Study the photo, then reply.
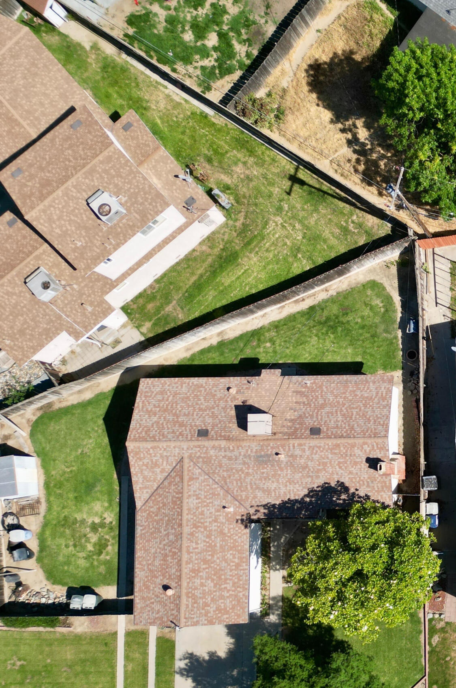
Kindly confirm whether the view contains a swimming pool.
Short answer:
No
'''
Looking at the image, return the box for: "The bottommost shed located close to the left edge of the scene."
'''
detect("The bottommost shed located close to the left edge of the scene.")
[0,456,59,497]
